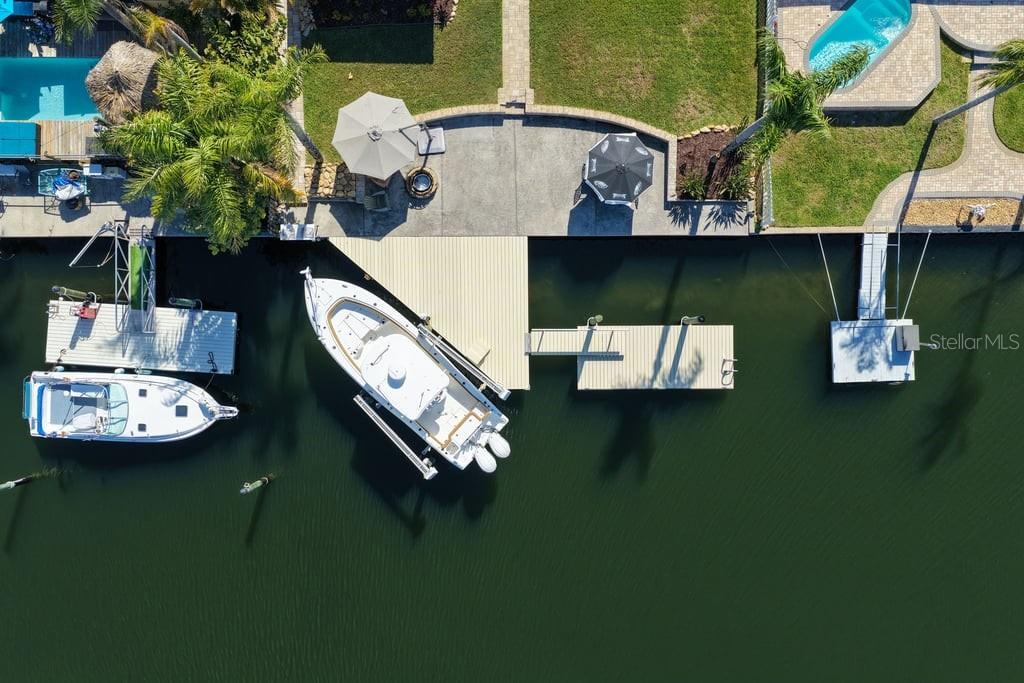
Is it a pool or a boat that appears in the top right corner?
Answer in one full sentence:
The one visible in the top right corner is a pool.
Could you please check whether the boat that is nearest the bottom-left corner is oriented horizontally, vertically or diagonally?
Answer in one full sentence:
From this overhead view, the boat that is nearest the bottom-left corner appears to run horizontally.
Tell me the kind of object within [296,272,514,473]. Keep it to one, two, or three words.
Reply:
boat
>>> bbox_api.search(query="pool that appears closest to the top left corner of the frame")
[0,56,103,122]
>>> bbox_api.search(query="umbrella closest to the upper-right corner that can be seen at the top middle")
[584,134,654,203]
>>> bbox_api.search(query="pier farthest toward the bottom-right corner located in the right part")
[832,320,915,383]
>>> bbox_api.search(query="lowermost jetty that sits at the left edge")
[45,293,237,374]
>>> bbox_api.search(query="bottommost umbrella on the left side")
[332,92,445,180]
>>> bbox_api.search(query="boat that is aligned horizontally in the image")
[23,372,237,443]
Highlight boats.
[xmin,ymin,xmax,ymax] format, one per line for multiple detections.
[296,272,514,473]
[23,372,237,443]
